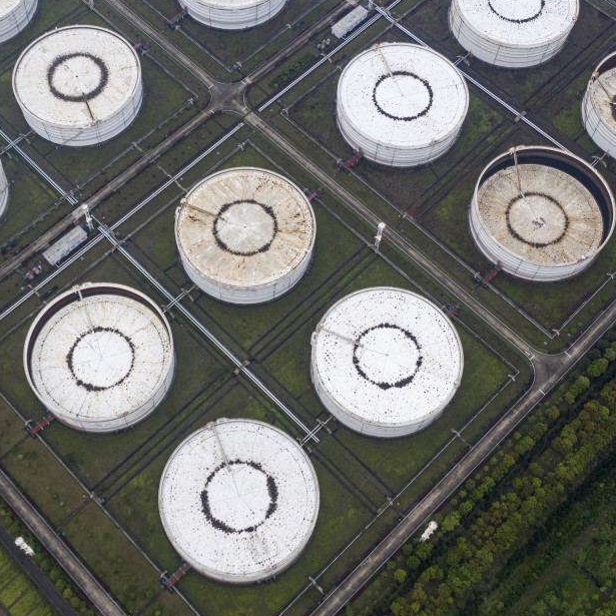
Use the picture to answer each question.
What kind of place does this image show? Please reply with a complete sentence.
The area seen from above is an industrial area.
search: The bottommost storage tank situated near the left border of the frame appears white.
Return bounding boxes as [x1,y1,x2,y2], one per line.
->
[23,281,179,437]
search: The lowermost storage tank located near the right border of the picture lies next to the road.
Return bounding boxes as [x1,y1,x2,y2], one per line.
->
[464,145,616,284]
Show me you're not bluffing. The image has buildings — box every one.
[43,225,88,265]
[331,5,368,38]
